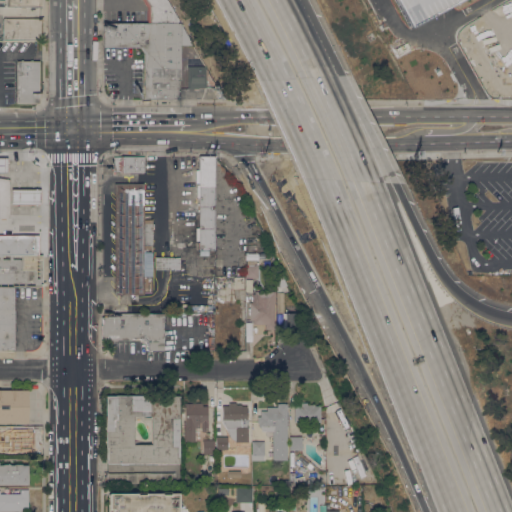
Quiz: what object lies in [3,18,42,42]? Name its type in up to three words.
building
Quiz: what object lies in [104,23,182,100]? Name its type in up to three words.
building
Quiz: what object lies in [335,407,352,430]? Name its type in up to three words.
vehicle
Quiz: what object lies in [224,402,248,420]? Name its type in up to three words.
house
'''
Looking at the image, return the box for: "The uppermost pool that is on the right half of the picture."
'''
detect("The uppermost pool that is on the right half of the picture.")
[305,444,322,465]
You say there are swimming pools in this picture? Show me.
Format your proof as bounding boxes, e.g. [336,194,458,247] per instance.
[310,496,319,512]
[305,444,322,465]
[136,422,148,441]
